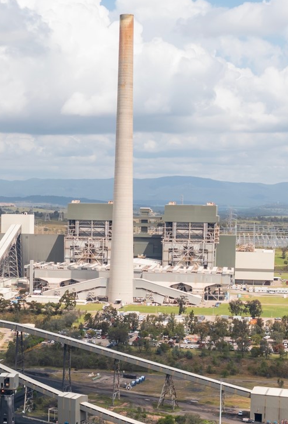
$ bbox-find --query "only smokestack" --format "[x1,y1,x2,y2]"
[110,13,135,305]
